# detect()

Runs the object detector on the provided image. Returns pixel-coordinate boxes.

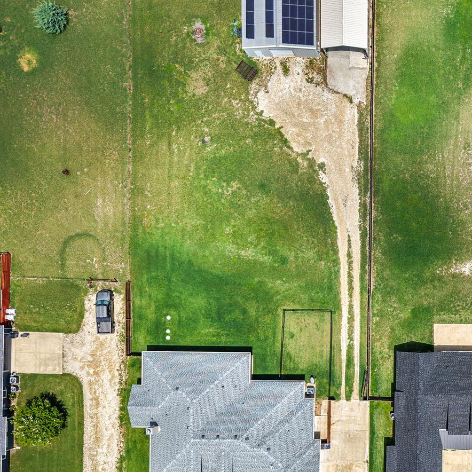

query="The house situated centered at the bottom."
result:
[127,350,320,472]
